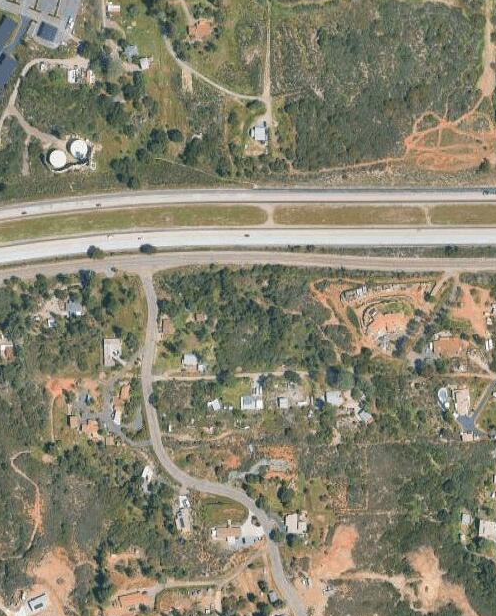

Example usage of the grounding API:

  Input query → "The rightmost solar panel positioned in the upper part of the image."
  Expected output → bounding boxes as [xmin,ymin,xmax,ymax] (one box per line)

[37,21,58,41]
